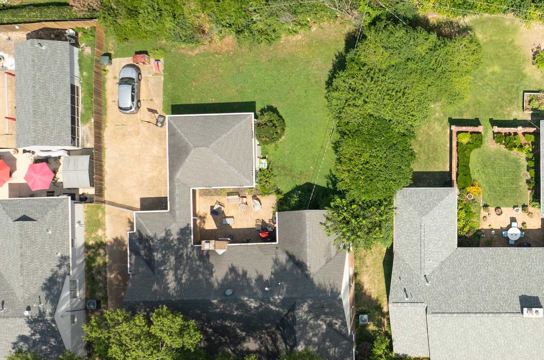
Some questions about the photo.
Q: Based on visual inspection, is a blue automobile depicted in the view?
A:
No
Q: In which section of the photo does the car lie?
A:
top left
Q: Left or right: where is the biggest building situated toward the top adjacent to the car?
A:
left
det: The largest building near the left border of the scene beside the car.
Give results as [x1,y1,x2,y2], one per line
[14,40,93,151]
